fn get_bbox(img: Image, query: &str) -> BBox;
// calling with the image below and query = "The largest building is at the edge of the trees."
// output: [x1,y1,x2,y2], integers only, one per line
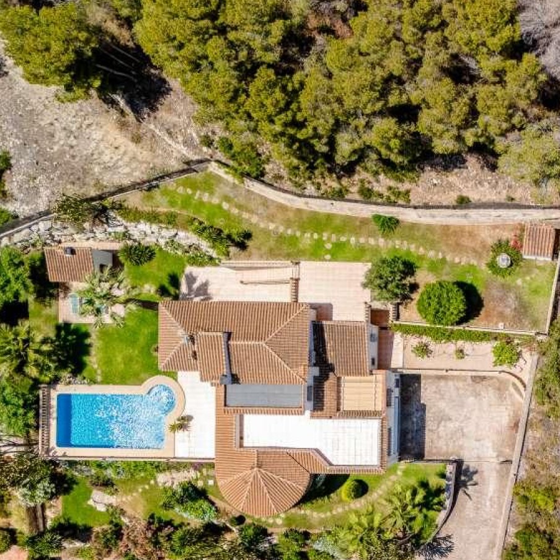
[157,301,399,517]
